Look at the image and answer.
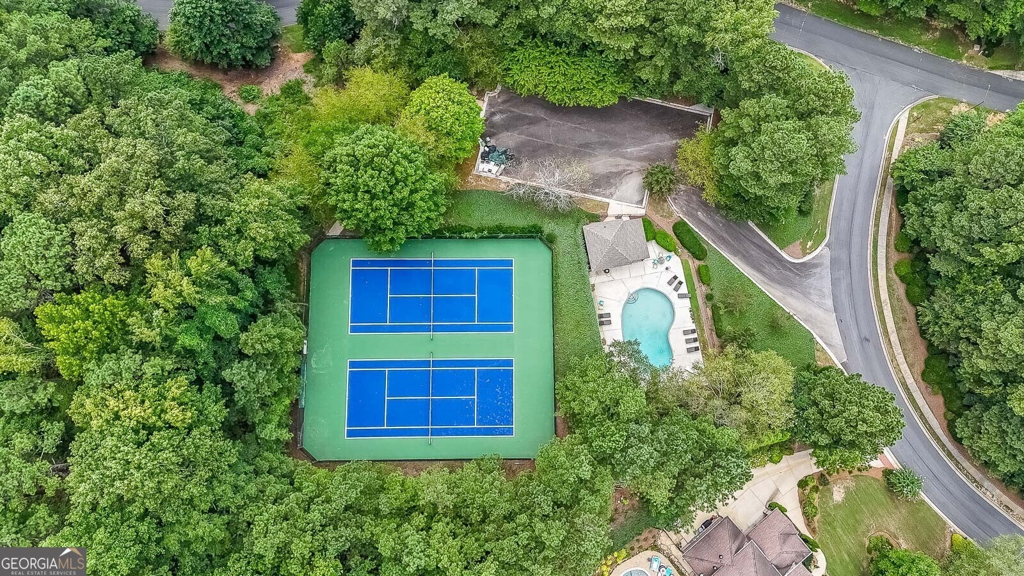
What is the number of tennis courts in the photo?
2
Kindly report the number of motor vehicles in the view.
0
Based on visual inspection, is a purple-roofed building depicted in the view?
No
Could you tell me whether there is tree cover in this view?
Yes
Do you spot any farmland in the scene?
No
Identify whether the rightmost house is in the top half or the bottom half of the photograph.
bottom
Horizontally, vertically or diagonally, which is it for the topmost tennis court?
horizontally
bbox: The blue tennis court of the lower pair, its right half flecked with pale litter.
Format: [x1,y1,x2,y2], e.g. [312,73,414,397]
[345,358,515,439]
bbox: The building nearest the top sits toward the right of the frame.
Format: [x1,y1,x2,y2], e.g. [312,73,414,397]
[583,218,649,271]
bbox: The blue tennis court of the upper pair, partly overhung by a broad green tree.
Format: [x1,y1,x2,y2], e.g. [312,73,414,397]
[348,258,515,334]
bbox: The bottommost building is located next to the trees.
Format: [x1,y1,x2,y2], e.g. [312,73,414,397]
[681,508,812,576]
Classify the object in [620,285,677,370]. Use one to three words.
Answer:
swimming pool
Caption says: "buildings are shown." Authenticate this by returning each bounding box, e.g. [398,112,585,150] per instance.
[681,508,812,576]
[583,218,649,271]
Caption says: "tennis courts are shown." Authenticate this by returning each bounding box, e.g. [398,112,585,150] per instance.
[348,258,515,334]
[345,358,515,439]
